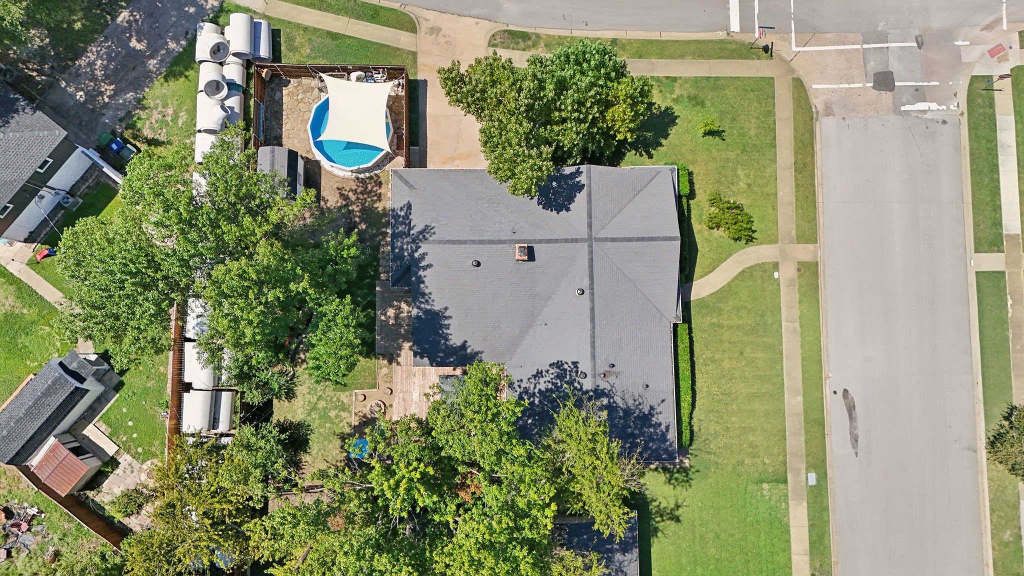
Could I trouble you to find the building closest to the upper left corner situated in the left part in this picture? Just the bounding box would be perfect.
[0,69,99,241]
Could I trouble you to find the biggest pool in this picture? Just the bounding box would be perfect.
[307,95,396,174]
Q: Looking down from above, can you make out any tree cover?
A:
Yes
